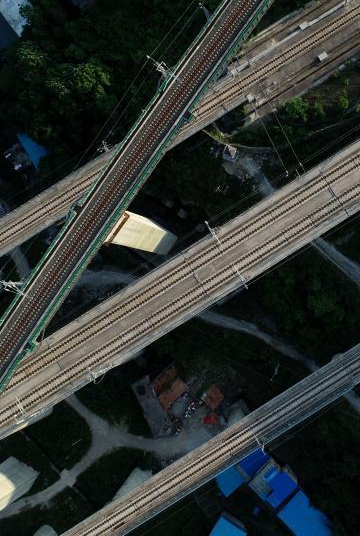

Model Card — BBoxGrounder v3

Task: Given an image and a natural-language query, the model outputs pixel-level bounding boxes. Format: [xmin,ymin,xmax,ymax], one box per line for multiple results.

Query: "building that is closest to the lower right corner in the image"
[277,486,338,536]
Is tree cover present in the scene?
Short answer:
Yes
